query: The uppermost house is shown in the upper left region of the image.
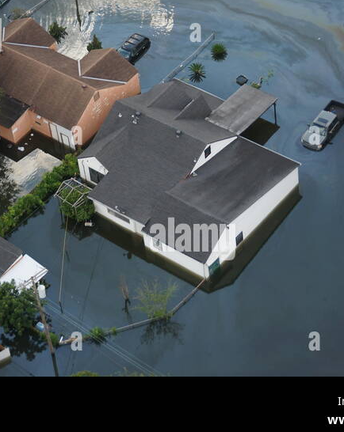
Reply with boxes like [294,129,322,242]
[0,15,144,151]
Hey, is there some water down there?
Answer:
Yes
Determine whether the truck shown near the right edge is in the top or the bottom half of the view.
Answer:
top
